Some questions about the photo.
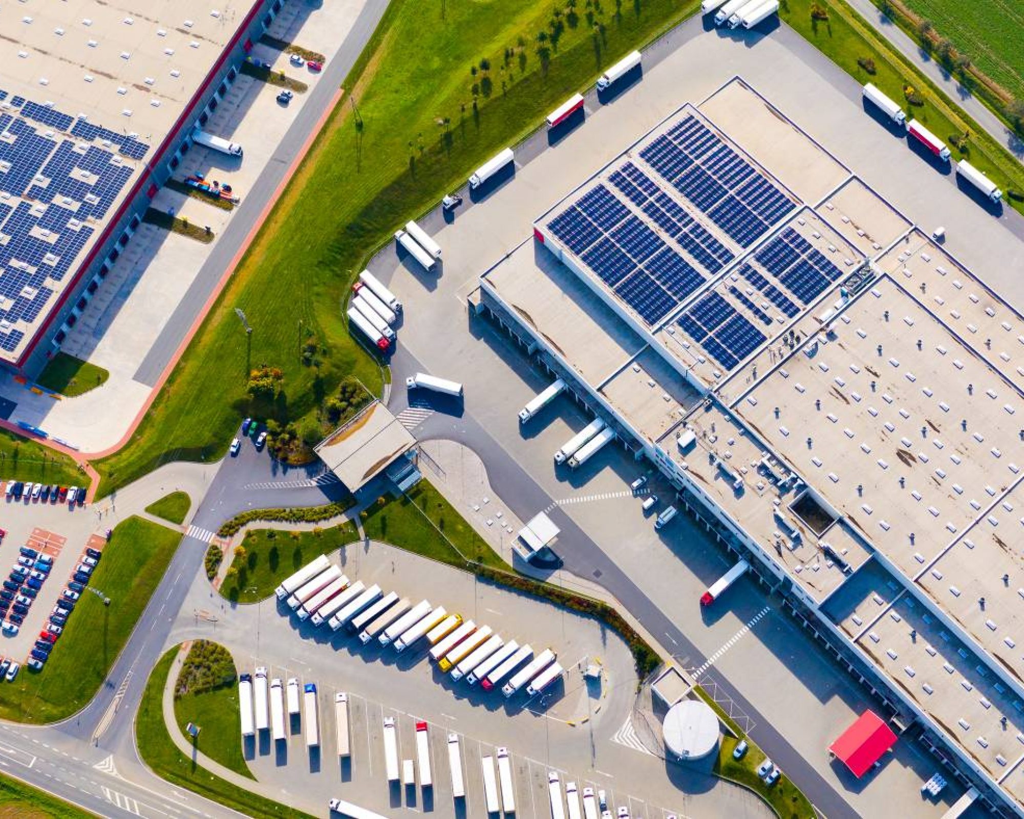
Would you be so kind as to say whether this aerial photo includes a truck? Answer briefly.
Yes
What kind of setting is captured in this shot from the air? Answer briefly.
industrial area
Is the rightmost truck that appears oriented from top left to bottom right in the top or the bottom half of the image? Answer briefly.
top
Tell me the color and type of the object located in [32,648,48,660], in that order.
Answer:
blue vehicle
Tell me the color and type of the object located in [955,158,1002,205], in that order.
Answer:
white truck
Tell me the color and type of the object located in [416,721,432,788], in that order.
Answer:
white vehicle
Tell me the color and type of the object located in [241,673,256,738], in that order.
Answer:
white vehicle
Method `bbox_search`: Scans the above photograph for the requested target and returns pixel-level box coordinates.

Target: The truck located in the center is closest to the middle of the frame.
[518,380,566,426]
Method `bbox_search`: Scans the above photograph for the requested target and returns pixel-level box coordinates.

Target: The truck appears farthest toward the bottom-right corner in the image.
[935,787,978,819]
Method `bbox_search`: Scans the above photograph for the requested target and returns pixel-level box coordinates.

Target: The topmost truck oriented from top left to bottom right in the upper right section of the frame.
[861,83,906,128]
